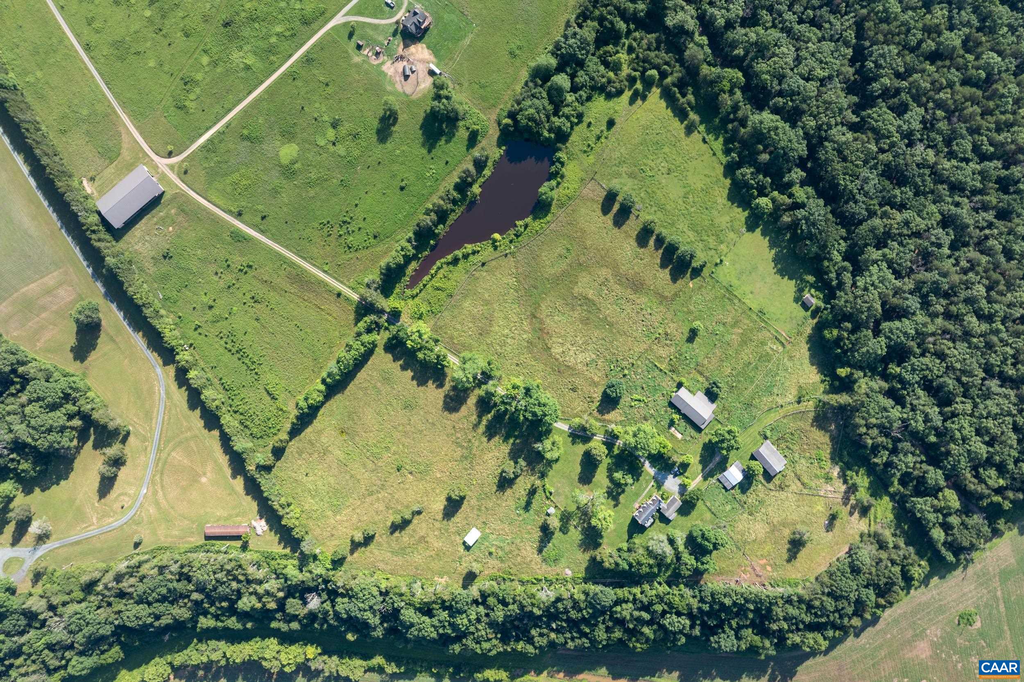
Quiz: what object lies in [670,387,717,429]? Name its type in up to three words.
barn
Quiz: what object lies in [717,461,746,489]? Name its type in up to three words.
shed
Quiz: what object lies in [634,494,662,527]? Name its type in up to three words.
house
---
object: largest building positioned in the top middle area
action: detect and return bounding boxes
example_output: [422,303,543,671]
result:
[403,8,432,37]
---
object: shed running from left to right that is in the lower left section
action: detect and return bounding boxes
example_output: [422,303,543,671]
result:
[205,524,250,536]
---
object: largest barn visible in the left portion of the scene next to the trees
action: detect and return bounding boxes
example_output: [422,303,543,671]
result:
[96,164,167,229]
